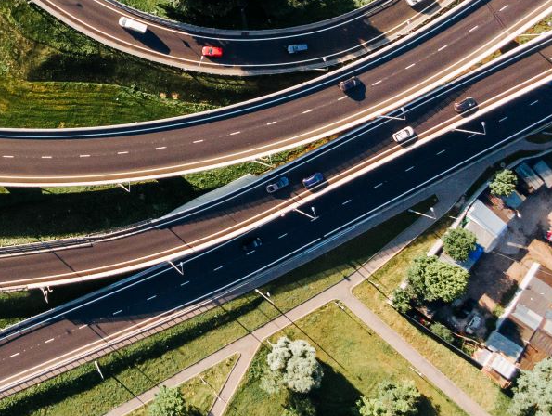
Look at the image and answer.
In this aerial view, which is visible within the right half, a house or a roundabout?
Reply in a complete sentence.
There is a house within the right half.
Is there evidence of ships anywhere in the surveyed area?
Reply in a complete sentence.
No, the scene contains no ship.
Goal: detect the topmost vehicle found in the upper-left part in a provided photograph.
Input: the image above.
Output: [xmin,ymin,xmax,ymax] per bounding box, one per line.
[119,17,147,33]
